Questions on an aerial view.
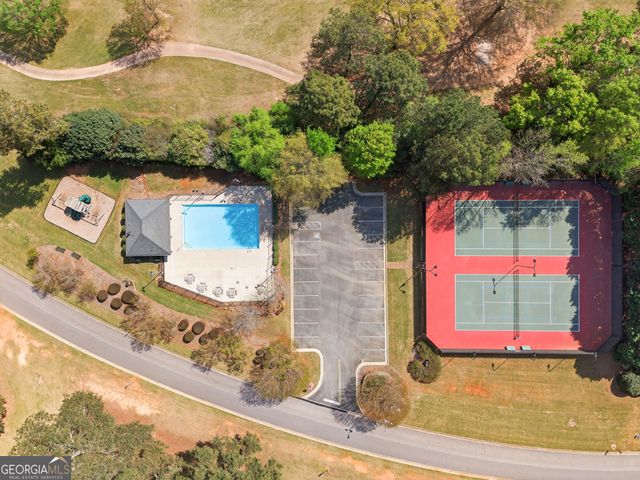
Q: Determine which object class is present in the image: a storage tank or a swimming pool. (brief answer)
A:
swimming pool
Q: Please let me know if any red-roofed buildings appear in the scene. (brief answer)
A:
No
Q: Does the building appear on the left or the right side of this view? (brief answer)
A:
left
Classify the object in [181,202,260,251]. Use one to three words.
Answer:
swimming pool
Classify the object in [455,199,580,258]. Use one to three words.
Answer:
tennis court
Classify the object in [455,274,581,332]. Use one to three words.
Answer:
tennis court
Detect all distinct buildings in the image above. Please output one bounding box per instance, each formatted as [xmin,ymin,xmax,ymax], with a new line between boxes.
[126,199,174,256]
